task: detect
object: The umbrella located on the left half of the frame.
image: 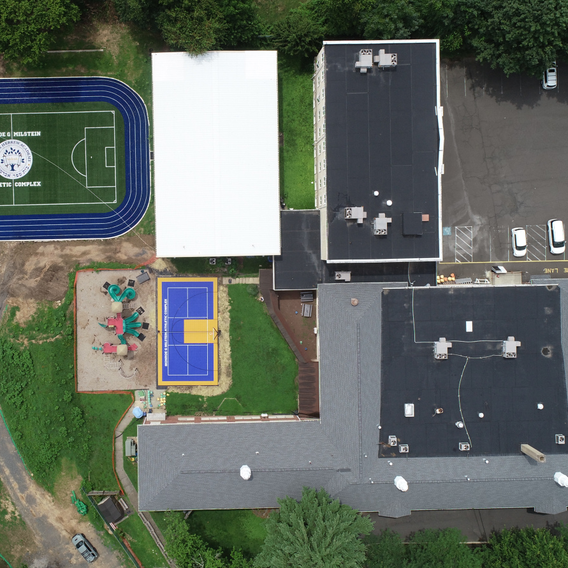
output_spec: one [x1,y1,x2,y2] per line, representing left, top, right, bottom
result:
[131,404,146,418]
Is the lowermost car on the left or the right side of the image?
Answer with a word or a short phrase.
left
